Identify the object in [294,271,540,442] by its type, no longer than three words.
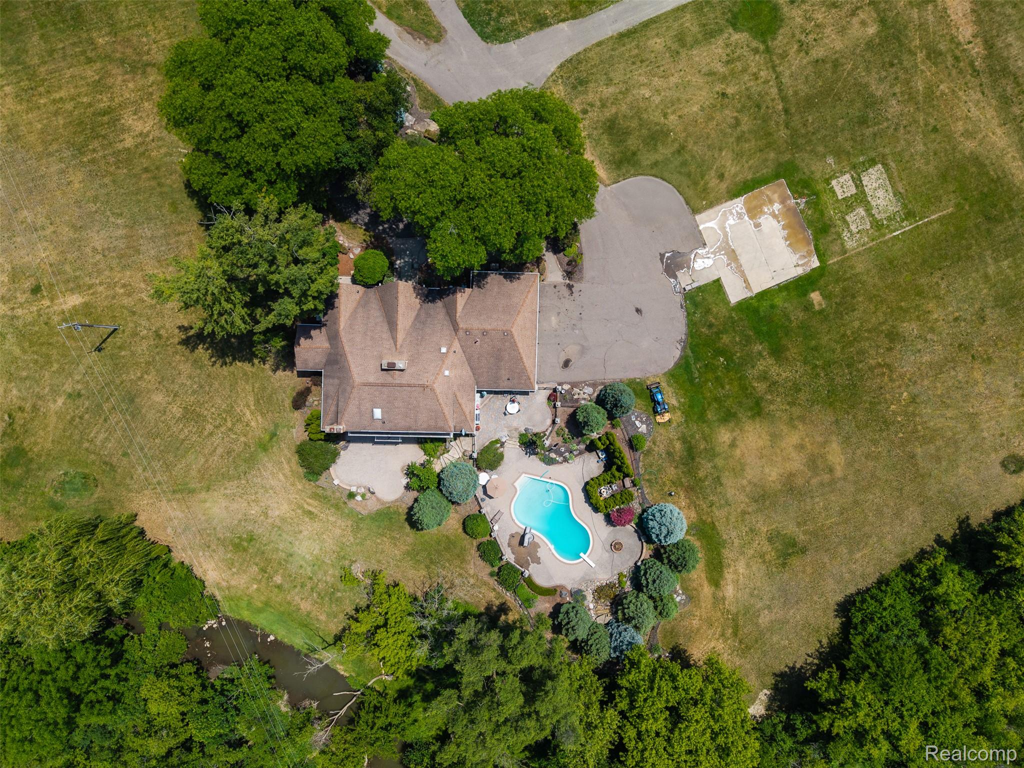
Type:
house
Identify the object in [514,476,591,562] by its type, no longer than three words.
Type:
swimming pool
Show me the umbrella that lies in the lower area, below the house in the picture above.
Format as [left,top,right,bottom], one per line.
[487,477,507,498]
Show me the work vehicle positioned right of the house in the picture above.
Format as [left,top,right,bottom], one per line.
[650,381,672,425]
